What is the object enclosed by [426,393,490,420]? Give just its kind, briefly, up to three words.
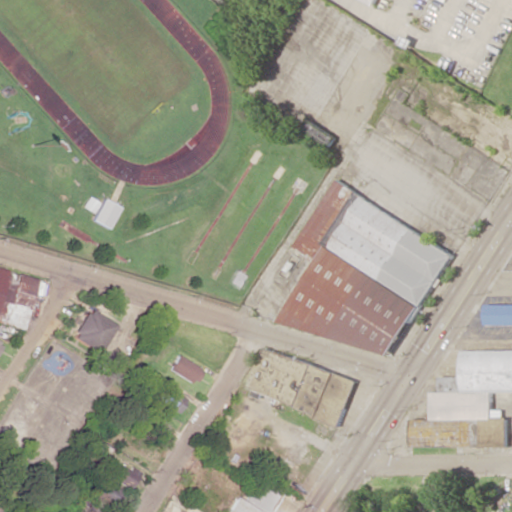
building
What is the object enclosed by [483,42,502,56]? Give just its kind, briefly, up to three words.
vehicle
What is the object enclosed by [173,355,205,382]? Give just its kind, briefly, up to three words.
house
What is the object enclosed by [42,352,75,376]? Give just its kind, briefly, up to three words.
playground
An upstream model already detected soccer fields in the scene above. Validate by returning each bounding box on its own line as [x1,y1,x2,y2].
[0,0,210,164]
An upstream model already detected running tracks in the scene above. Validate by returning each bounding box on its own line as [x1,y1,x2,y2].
[0,0,231,187]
